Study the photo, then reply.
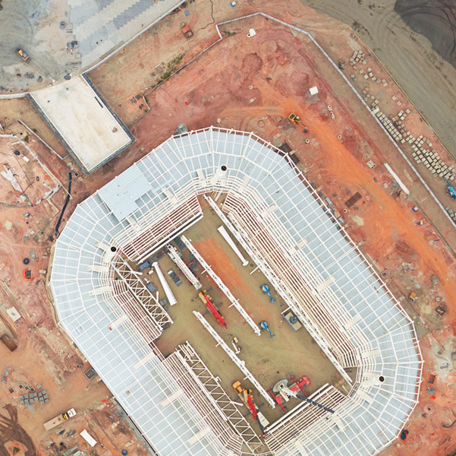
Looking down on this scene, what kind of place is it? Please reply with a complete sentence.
This looks like a sports ground.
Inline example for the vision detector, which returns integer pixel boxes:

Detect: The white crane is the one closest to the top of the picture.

[165,244,202,290]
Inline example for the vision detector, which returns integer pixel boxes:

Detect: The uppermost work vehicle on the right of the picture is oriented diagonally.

[287,112,307,133]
